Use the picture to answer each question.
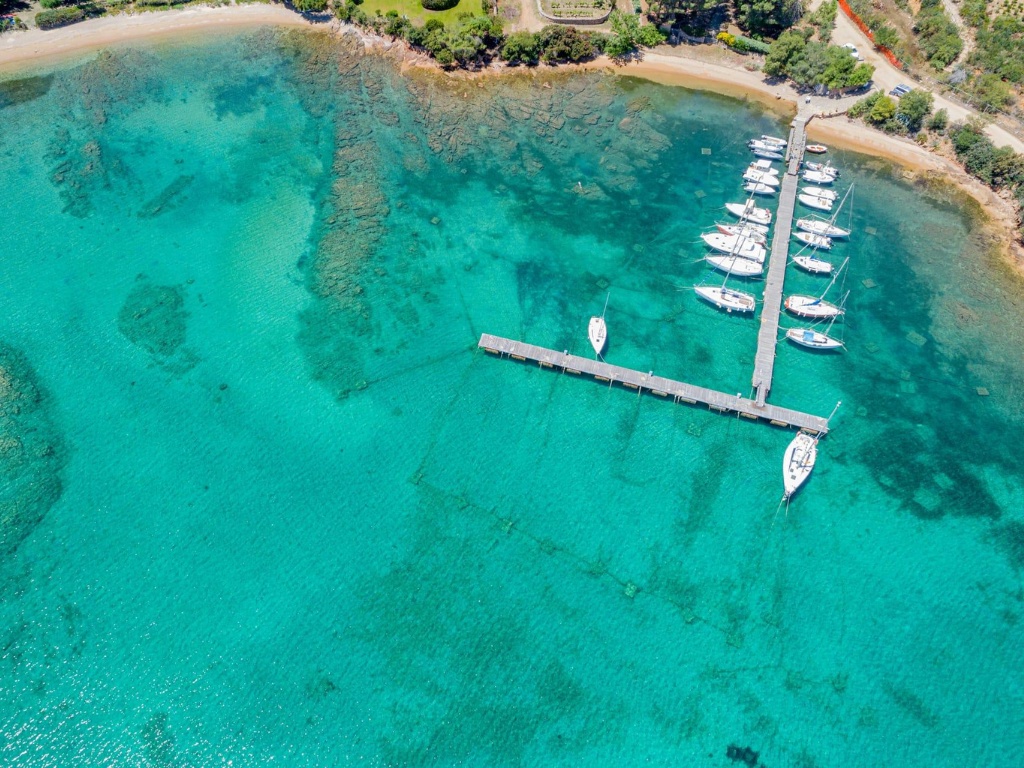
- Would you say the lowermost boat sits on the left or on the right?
right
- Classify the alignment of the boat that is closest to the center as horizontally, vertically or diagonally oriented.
vertically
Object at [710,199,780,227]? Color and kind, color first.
white boat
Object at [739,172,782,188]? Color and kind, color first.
white boat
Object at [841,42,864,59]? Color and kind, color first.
white car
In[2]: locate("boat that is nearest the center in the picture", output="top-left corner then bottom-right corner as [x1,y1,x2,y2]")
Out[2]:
[587,291,610,364]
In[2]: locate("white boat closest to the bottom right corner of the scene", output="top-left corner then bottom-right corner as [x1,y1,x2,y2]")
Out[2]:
[775,401,841,519]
